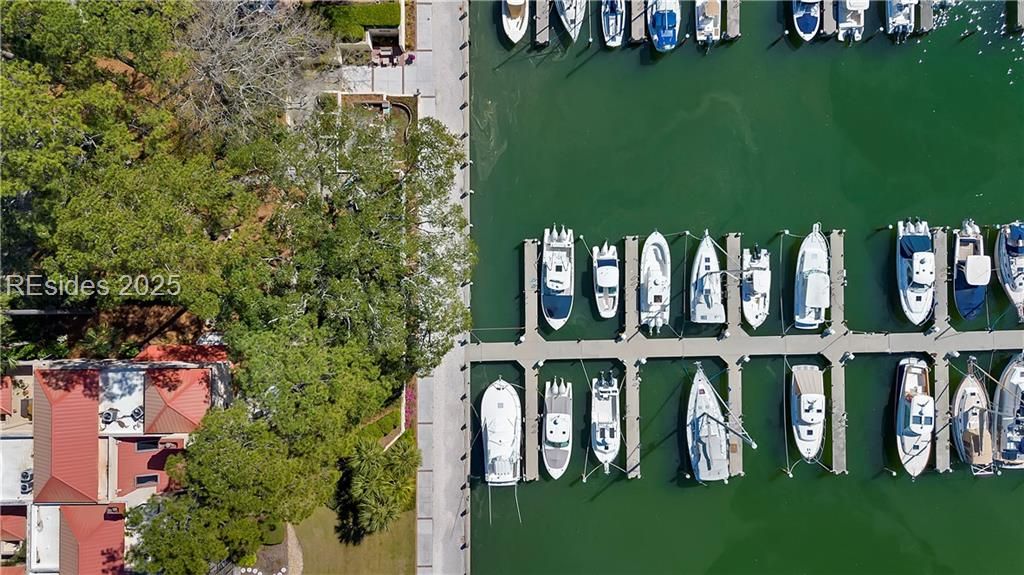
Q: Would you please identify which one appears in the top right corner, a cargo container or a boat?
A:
boat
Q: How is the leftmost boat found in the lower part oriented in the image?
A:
up and down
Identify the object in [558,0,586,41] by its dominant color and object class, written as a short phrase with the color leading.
white boat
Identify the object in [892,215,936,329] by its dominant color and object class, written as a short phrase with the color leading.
white boat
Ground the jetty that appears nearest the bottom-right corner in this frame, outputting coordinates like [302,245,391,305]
[926,352,953,473]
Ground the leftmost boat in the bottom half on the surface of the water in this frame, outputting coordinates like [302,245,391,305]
[479,375,523,529]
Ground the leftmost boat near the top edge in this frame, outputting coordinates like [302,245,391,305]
[501,0,529,43]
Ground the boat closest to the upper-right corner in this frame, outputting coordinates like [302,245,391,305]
[883,0,916,43]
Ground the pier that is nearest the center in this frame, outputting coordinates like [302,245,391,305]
[515,238,547,340]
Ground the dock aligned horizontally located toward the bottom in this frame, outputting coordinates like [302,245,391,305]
[471,330,1024,362]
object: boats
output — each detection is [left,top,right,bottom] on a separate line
[741,245,771,330]
[892,215,936,329]
[542,376,573,480]
[949,363,1024,476]
[590,374,621,475]
[889,356,932,481]
[600,0,625,49]
[949,222,1004,321]
[836,0,869,42]
[541,223,575,330]
[501,0,529,43]
[992,223,1024,327]
[646,0,683,55]
[689,228,762,322]
[592,242,620,319]
[790,0,820,42]
[686,361,757,486]
[558,0,586,41]
[639,231,678,334]
[790,222,830,332]
[479,375,523,529]
[693,0,720,52]
[883,0,916,43]
[787,363,826,466]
